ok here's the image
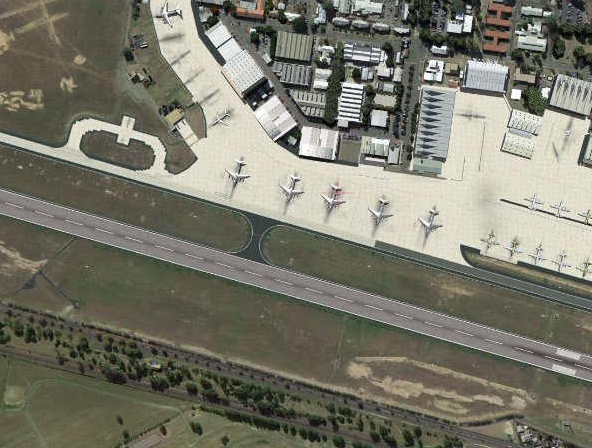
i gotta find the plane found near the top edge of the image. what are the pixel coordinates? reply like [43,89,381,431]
[155,1,183,26]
